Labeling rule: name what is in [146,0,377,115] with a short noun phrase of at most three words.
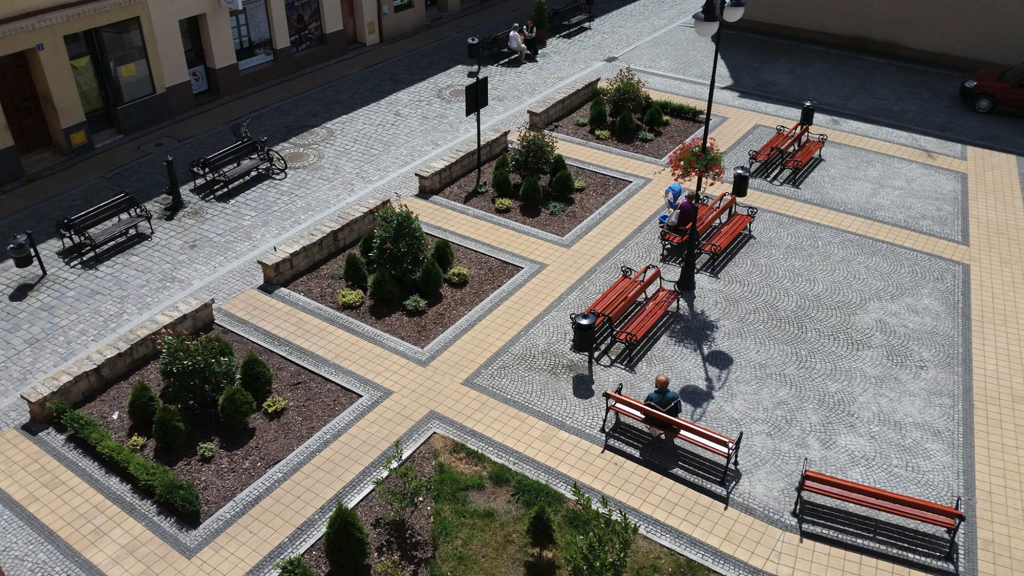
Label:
house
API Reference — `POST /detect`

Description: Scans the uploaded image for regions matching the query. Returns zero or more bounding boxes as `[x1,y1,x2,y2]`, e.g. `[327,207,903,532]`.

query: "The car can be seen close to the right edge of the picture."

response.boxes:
[957,67,1024,115]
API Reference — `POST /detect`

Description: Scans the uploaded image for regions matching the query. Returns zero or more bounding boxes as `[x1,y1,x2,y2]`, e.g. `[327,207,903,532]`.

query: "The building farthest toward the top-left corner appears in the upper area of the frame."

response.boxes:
[0,0,174,181]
